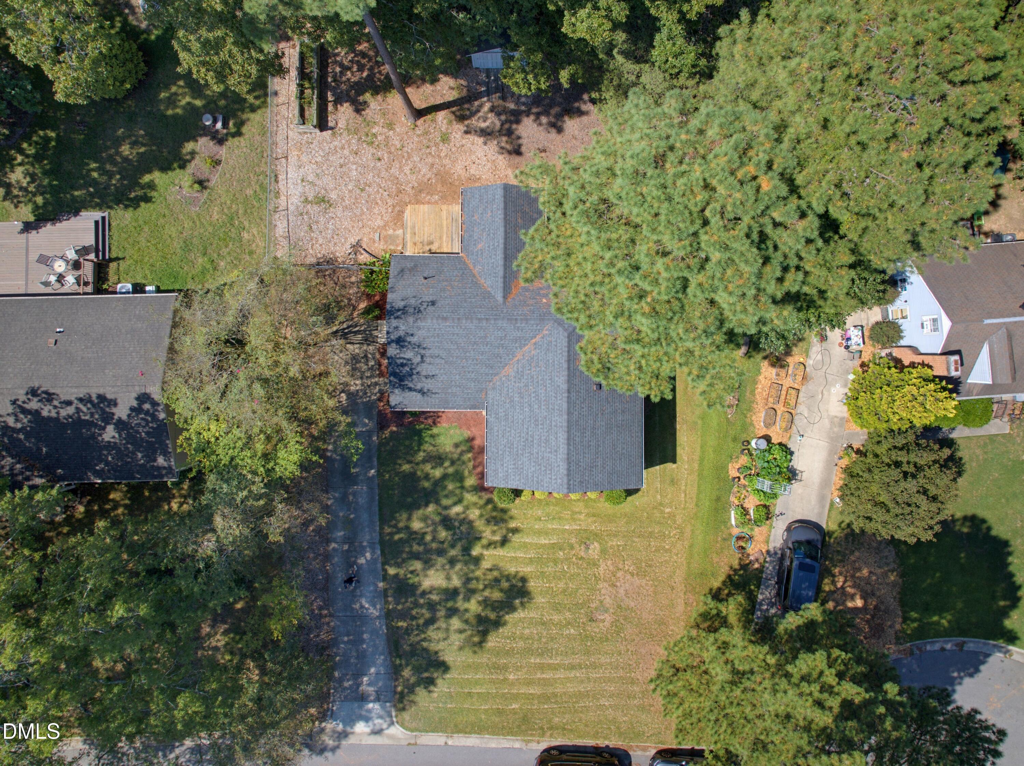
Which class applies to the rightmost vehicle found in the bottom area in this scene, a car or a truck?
car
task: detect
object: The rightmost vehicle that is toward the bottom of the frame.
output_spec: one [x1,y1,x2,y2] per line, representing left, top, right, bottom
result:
[773,522,829,615]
